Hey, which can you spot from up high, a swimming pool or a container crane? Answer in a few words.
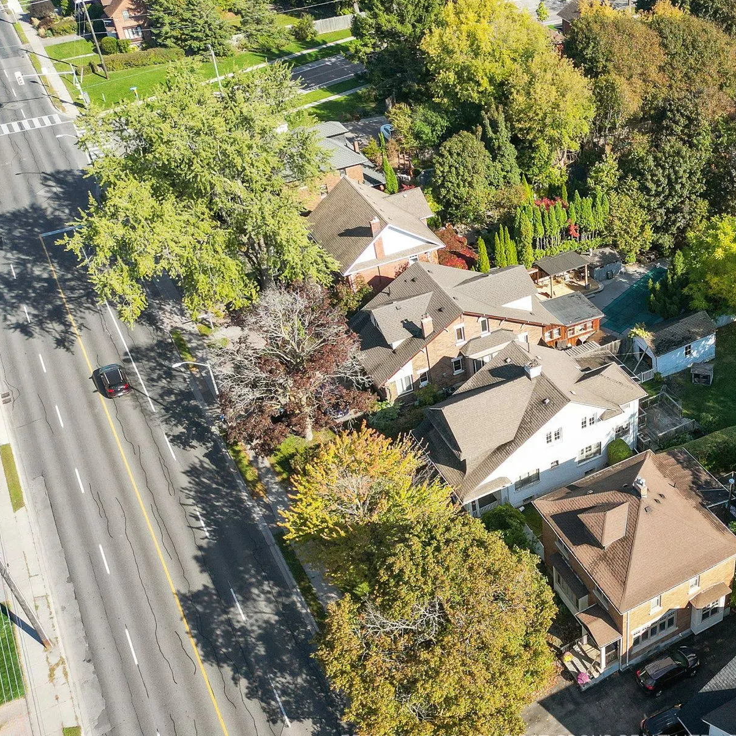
swimming pool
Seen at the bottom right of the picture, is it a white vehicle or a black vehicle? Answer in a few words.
black vehicle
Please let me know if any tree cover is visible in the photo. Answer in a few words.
Yes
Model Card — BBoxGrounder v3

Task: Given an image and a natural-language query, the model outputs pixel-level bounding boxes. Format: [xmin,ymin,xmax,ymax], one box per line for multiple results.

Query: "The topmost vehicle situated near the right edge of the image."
[634,640,706,694]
